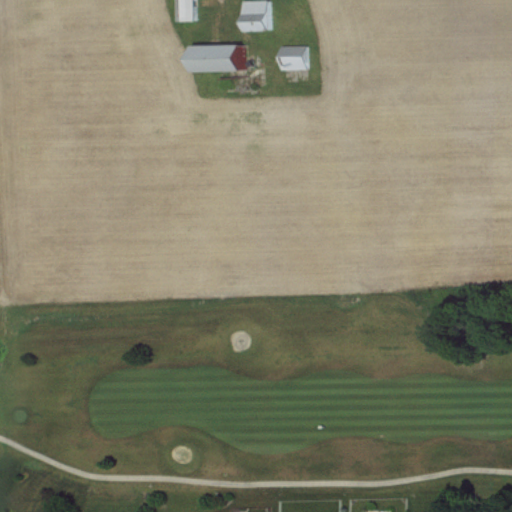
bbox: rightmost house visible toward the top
[276,47,310,71]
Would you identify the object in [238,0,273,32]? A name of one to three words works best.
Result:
house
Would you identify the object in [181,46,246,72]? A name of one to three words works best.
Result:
barn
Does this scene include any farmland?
Yes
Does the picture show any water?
No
